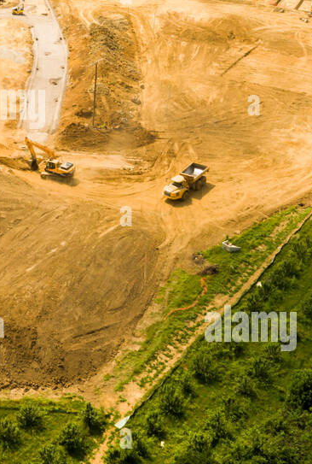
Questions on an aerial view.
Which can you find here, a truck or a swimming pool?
truck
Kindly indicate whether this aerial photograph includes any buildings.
No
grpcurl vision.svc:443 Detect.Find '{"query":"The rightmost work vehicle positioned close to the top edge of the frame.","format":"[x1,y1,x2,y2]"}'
[12,0,27,14]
